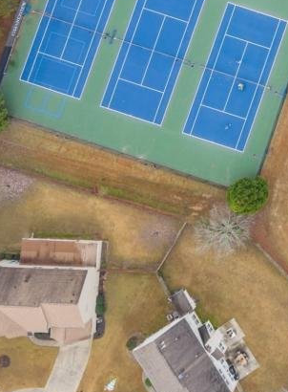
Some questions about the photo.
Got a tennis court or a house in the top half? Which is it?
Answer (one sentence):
What appears in the top half is a tennis court.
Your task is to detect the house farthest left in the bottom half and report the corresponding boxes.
[0,236,104,343]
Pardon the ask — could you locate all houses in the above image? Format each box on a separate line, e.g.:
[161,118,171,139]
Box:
[0,236,104,343]
[133,314,238,392]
